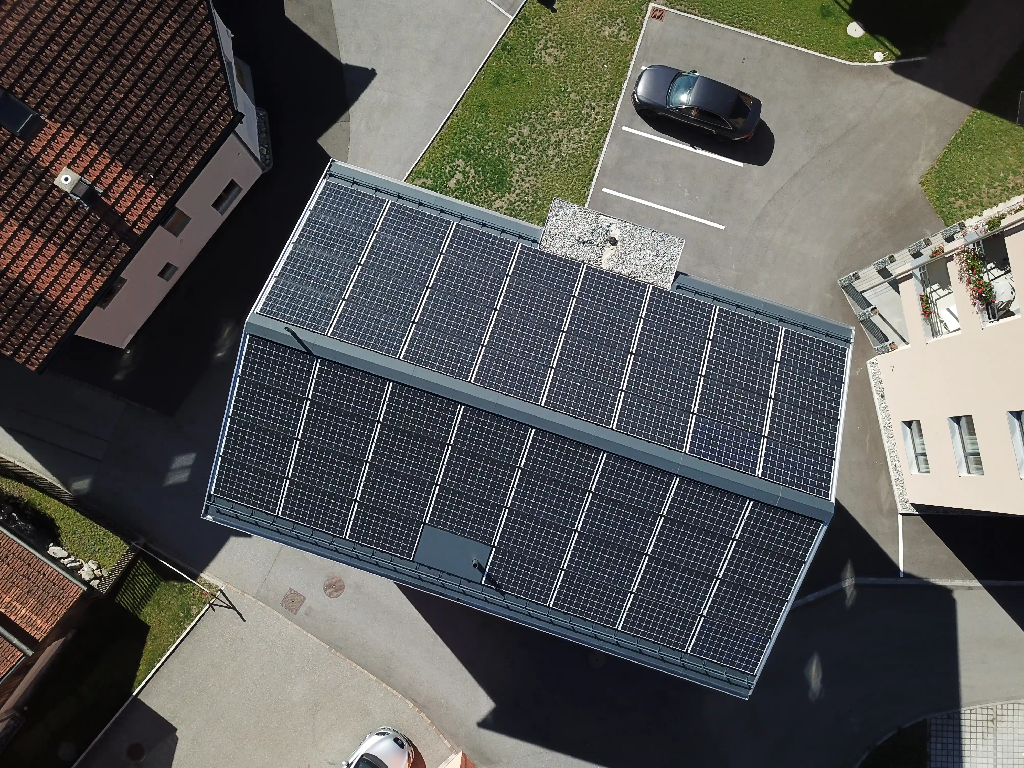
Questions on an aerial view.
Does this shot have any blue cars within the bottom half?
No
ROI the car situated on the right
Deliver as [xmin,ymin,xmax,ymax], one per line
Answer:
[631,64,764,145]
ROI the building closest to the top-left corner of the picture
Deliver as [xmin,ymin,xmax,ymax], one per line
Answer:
[0,0,263,375]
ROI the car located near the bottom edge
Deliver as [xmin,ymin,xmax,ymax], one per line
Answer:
[338,721,412,768]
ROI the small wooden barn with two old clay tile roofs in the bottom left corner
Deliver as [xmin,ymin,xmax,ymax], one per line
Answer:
[0,514,114,743]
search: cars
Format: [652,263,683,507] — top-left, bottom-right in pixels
[338,721,412,768]
[631,64,764,145]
